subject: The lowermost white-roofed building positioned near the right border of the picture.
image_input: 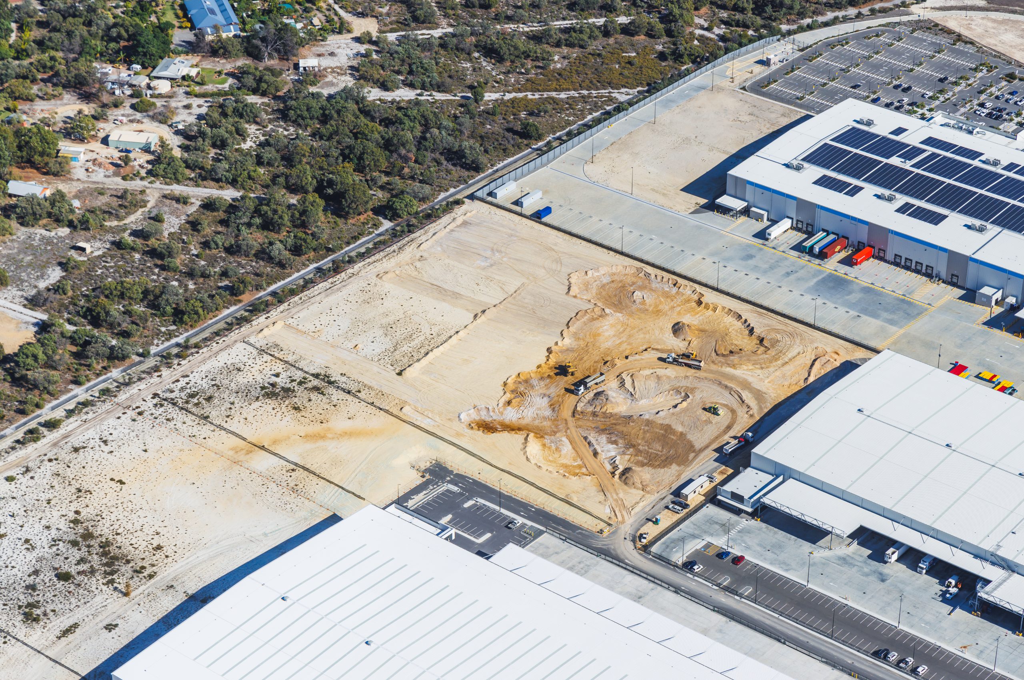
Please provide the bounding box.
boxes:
[750,349,1024,574]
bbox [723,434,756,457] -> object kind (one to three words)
truck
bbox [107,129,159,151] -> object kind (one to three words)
shed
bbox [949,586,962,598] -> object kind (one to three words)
vehicle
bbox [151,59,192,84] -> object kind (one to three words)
house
